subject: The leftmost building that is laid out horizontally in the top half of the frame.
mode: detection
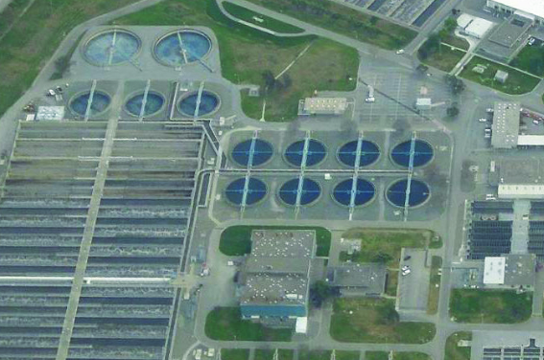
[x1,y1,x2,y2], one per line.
[303,98,348,115]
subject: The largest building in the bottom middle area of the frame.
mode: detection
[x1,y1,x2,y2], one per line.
[233,231,317,330]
